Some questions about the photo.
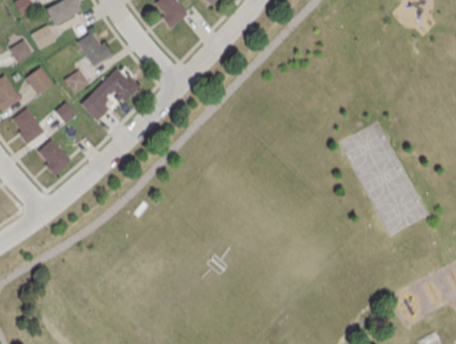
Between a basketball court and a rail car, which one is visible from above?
basketball court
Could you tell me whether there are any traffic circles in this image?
No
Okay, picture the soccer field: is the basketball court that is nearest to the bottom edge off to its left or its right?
to the right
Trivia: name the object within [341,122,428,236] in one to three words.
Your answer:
basketball court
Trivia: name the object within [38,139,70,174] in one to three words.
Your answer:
house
